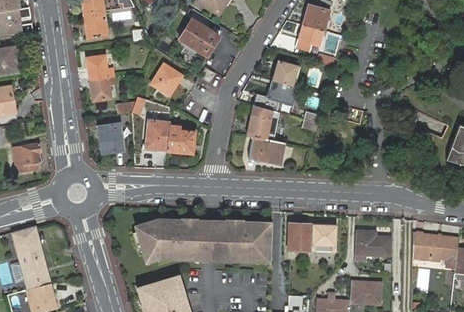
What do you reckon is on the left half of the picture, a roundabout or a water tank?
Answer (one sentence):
You can see a roundabout on the left half of the picture.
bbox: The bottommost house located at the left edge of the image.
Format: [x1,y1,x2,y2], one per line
[11,226,59,312]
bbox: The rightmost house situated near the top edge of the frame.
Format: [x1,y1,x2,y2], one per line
[297,4,332,54]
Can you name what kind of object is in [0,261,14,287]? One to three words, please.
swimming pool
